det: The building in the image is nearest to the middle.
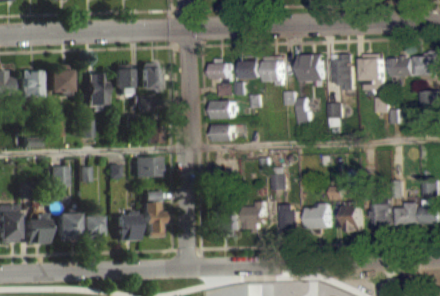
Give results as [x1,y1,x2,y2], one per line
[205,124,234,142]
